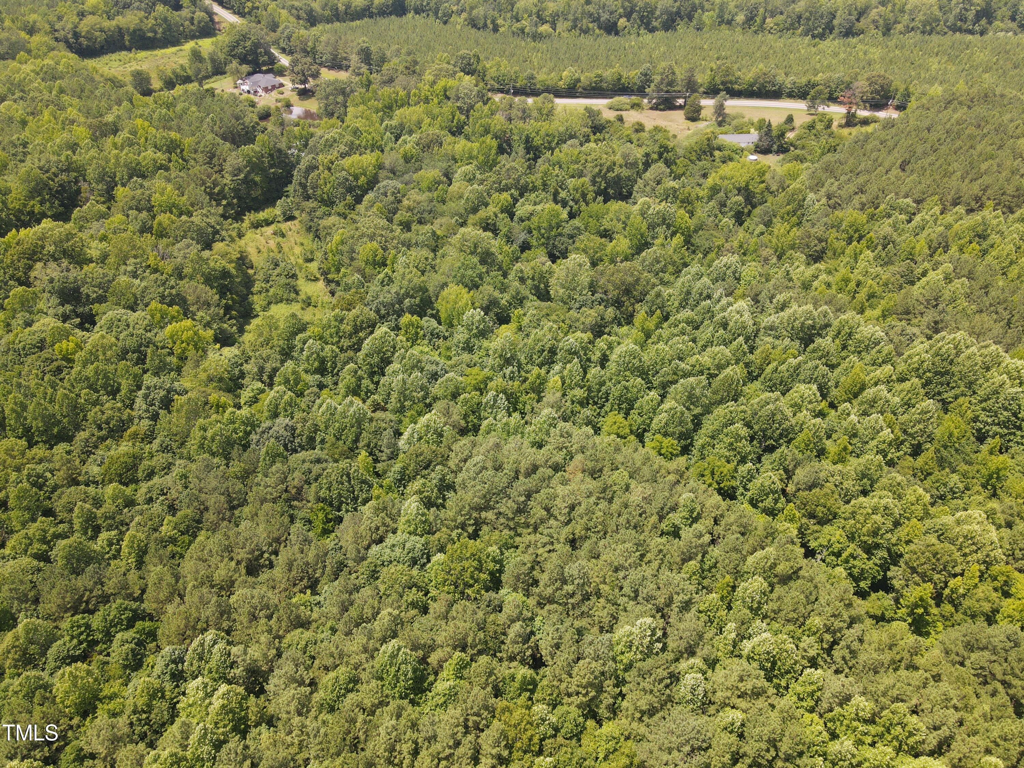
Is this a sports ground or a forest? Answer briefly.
forest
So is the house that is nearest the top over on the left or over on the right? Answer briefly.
left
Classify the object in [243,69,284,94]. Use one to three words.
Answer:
house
